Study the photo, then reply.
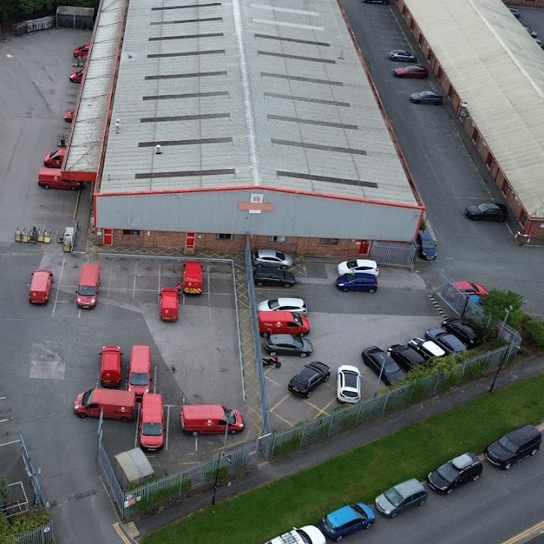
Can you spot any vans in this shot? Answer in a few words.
Yes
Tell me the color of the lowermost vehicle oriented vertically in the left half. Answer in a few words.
red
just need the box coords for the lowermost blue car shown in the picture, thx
[320,505,373,543]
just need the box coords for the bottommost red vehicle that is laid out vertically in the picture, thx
[138,390,165,448]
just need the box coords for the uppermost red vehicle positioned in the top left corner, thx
[75,39,92,55]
